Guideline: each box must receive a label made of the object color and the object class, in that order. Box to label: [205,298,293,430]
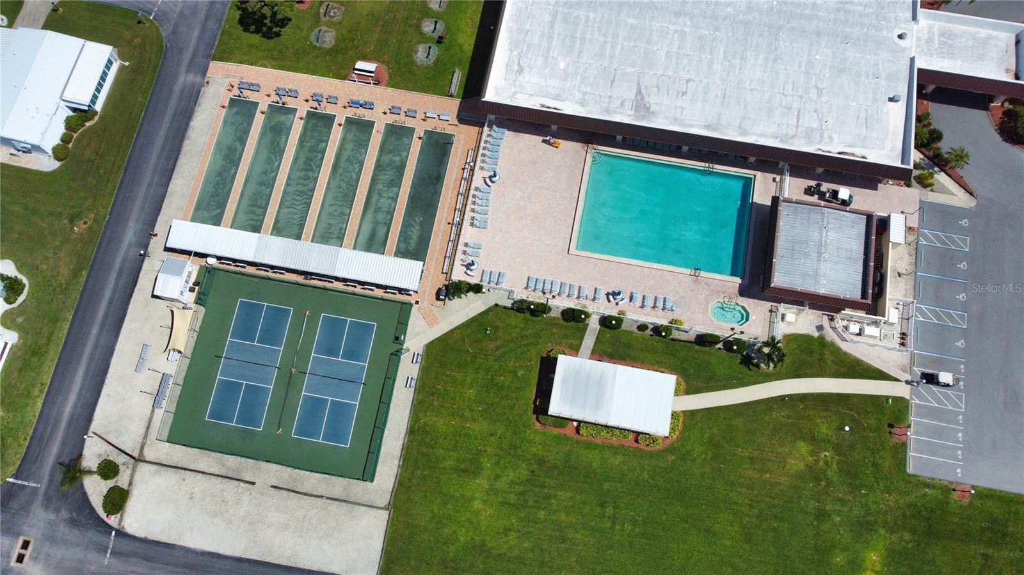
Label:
blue sports court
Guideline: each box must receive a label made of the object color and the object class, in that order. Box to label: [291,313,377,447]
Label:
blue sports court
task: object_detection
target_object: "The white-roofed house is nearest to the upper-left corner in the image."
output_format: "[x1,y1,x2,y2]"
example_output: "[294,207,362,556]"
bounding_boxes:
[0,23,129,154]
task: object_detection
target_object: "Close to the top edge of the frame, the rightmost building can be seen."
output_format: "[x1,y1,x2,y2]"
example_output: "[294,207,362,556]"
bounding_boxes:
[475,0,920,181]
